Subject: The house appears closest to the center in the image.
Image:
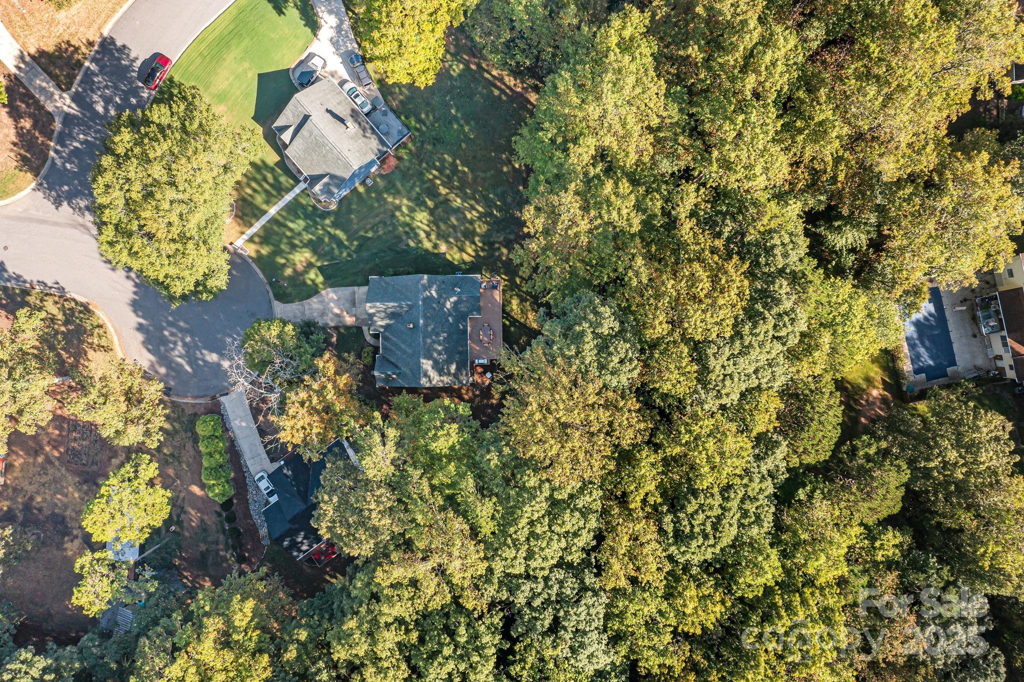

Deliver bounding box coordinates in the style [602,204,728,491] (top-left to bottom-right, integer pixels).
[365,273,481,388]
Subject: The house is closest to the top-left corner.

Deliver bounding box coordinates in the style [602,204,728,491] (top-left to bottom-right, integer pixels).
[272,76,392,206]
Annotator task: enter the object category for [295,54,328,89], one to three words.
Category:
car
